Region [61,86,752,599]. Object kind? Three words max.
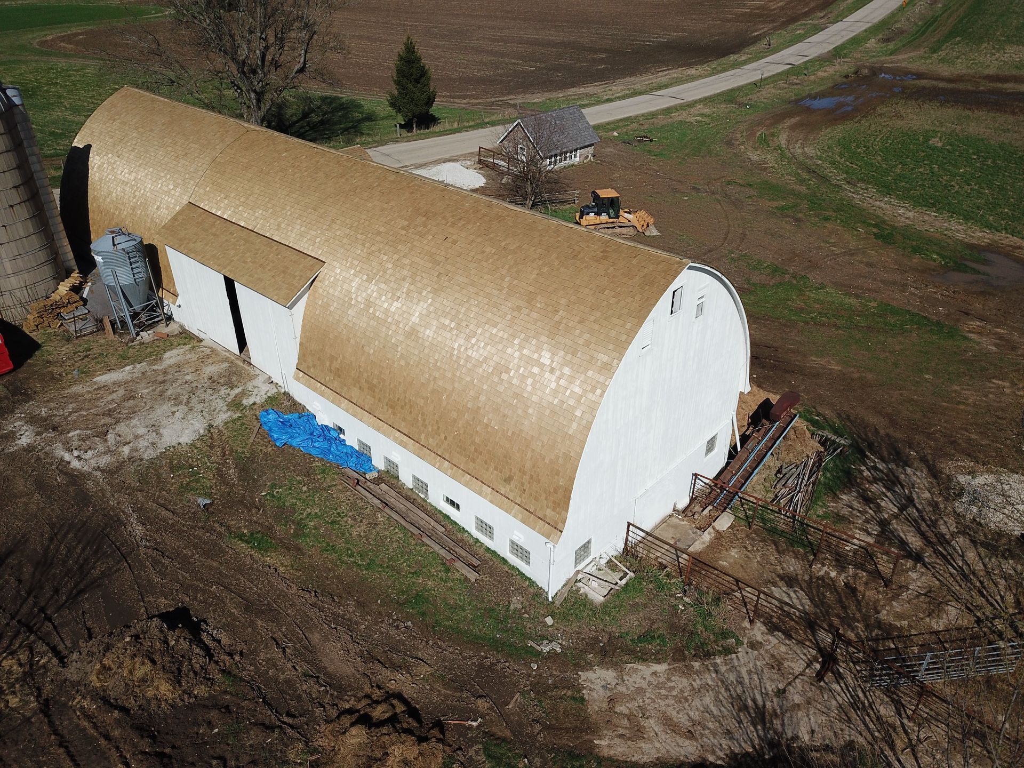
barn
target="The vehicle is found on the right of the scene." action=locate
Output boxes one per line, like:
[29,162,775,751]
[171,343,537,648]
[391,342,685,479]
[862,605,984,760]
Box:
[581,183,663,239]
